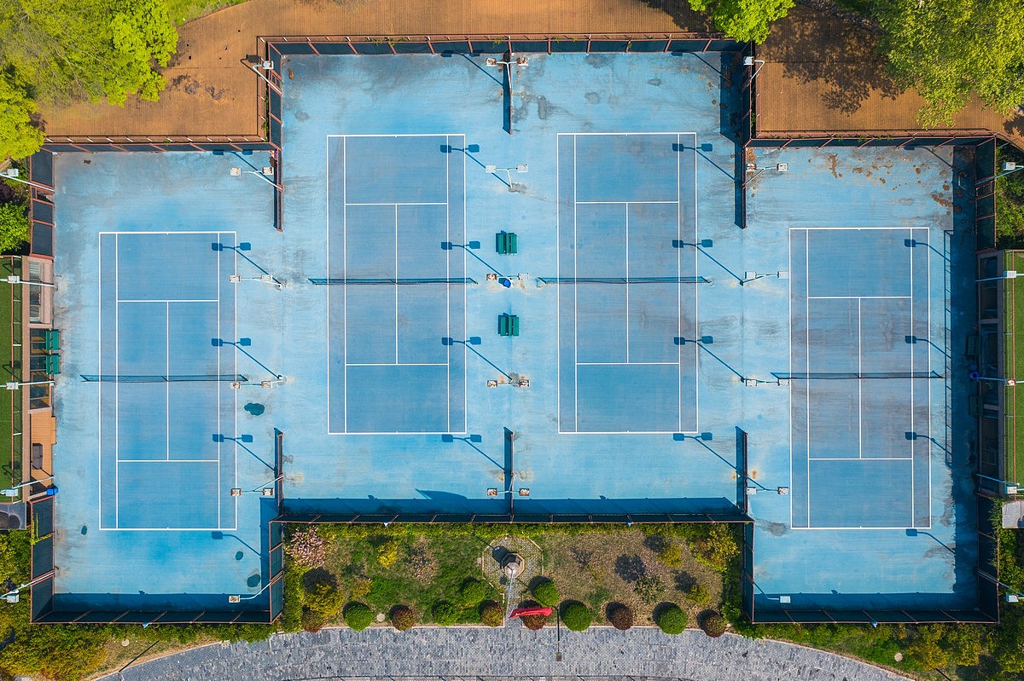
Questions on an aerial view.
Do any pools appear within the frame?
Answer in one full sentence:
No, no pool is visible in the view.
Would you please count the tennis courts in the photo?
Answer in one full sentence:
In total, 4 tennis courts can be seen.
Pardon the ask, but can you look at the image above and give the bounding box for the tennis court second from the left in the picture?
[327,133,466,434]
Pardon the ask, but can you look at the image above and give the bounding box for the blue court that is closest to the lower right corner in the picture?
[789,227,931,530]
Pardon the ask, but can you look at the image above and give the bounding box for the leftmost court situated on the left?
[99,231,237,531]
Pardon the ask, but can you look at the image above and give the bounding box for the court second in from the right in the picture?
[557,132,698,434]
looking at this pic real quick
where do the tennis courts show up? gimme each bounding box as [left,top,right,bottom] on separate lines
[557,132,698,434]
[327,133,466,434]
[99,231,237,531]
[789,227,931,530]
